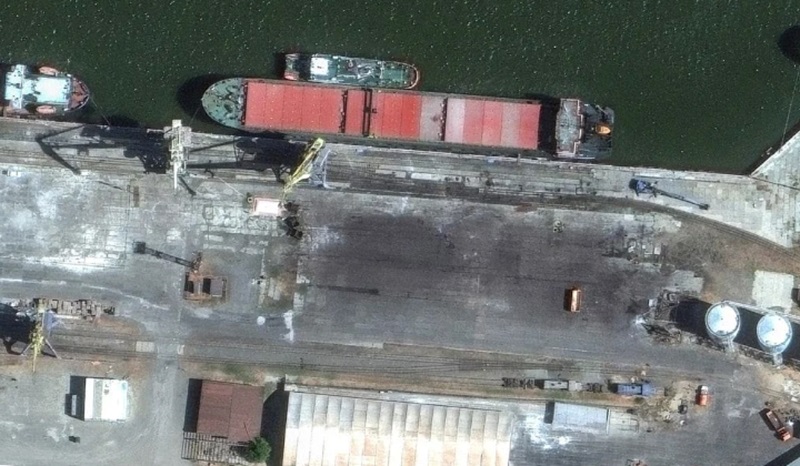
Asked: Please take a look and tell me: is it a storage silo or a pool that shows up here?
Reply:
storage silo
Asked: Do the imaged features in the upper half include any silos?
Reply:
No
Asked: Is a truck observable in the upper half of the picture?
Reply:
No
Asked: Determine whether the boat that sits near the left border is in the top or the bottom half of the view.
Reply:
top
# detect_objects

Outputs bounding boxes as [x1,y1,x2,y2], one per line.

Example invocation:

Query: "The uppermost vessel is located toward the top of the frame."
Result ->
[284,52,421,88]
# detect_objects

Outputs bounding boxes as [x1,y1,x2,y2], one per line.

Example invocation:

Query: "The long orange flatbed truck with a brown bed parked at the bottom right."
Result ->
[766,409,793,442]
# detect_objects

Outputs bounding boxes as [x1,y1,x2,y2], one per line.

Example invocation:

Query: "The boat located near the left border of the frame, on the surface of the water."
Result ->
[0,67,90,115]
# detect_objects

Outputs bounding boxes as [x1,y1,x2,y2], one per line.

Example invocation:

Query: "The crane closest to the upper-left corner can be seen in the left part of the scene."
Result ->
[159,113,201,194]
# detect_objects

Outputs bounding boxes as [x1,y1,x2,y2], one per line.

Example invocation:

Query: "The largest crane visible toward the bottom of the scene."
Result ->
[17,301,66,383]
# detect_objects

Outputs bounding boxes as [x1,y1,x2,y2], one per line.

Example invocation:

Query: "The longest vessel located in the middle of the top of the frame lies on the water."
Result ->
[202,77,616,160]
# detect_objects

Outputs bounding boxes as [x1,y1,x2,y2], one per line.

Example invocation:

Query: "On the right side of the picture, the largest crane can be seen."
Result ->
[629,174,711,210]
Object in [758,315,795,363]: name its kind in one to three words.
silo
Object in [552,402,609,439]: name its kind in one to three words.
building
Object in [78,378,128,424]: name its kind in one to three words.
building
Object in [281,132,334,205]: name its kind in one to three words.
crane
